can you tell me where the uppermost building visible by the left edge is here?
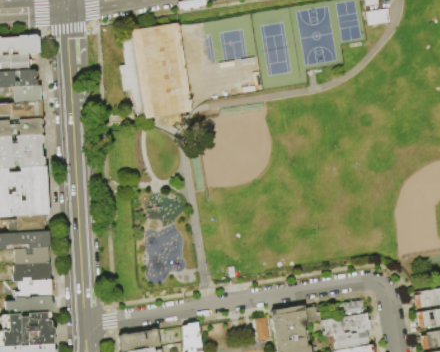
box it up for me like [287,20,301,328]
[0,33,40,54]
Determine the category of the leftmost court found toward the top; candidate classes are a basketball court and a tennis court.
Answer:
tennis court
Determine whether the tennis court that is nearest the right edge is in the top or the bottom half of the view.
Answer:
top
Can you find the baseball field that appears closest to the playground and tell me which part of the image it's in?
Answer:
center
